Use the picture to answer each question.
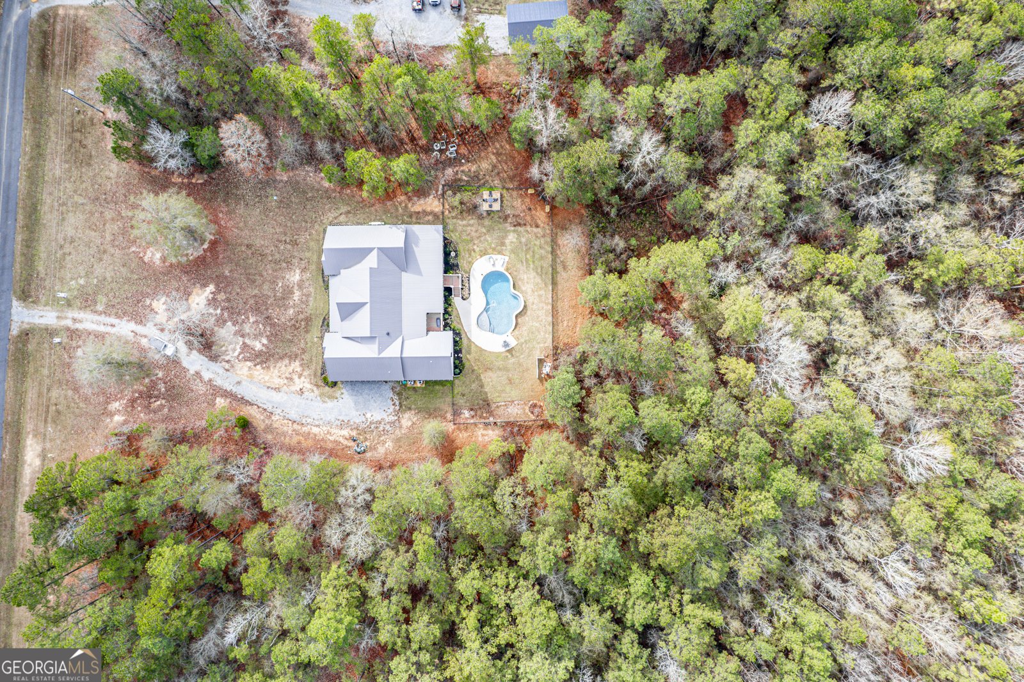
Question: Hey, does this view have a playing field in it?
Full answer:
No, there is no playing field in the image.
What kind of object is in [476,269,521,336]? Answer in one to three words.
swimming pool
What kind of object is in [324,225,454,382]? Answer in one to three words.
house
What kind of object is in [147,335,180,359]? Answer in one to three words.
truck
